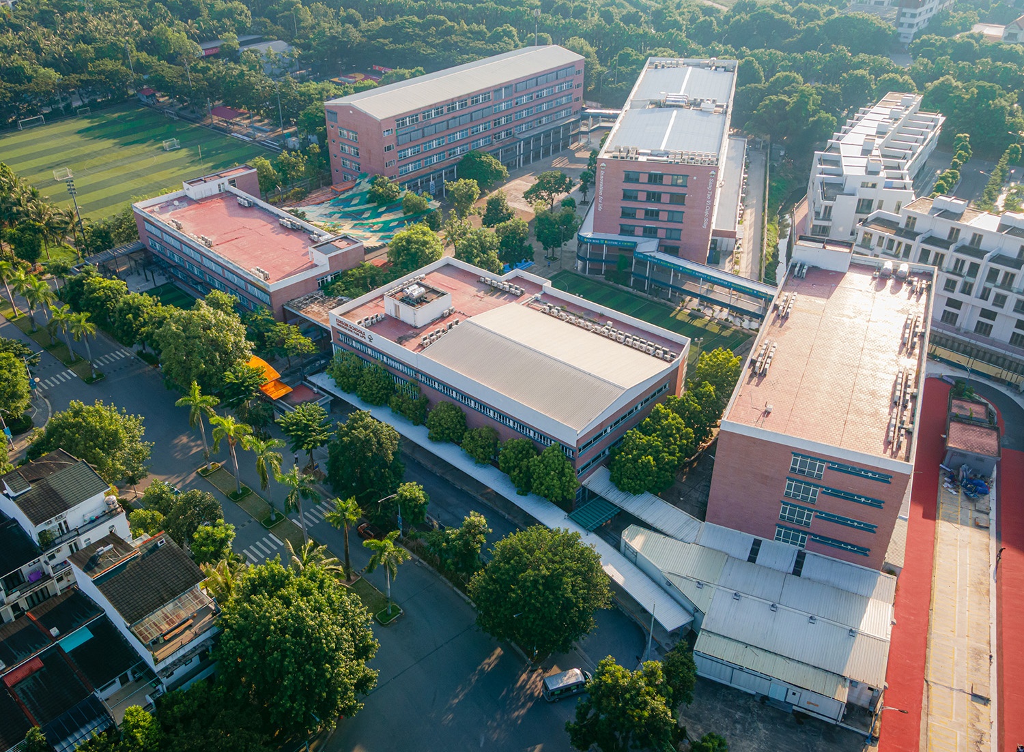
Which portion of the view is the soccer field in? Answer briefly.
top left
